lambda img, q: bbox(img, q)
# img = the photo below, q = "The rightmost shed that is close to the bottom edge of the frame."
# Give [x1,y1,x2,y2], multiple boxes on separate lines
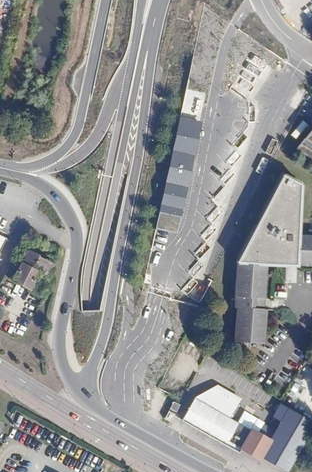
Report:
[265,404,308,472]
